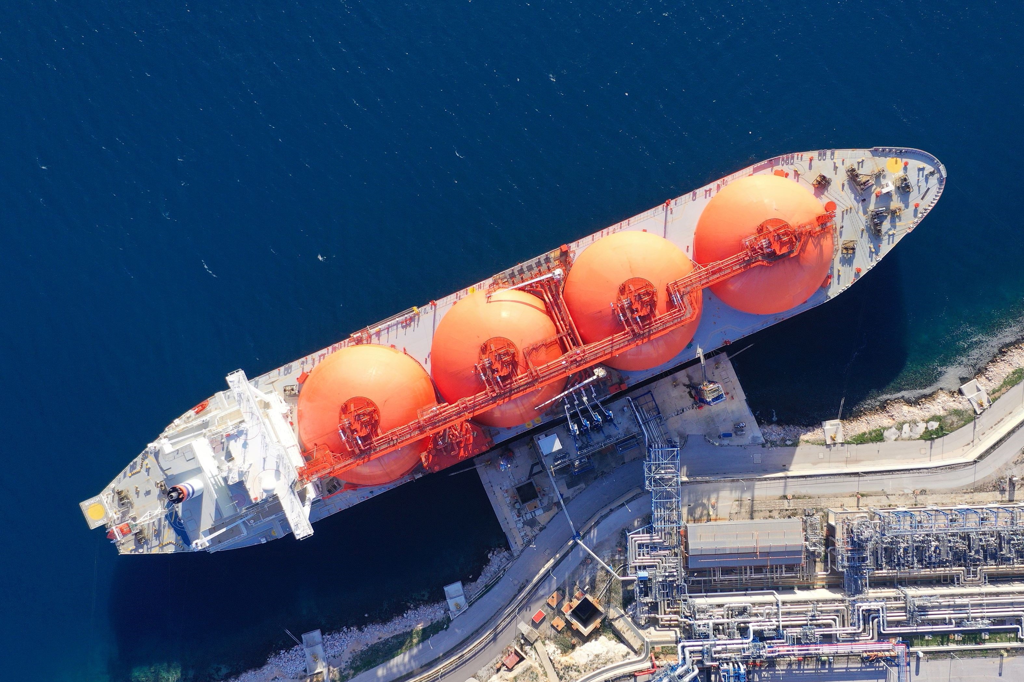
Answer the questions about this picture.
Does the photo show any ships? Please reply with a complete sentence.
Yes, the frame does contain a ship.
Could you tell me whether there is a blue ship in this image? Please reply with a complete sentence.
No, no blue ship can be seen from above.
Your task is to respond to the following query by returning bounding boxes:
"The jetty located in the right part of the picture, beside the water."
[474,348,765,557]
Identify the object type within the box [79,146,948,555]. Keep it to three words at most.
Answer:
ship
